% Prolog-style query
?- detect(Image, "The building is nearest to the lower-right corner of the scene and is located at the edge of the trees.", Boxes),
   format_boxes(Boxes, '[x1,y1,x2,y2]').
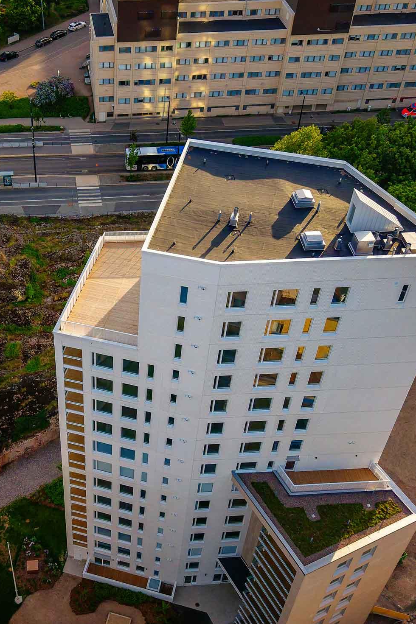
[53,139,416,624]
